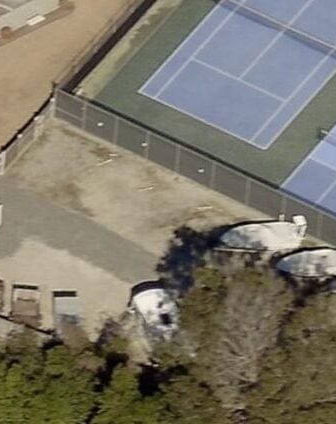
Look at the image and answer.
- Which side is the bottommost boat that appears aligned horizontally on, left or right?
right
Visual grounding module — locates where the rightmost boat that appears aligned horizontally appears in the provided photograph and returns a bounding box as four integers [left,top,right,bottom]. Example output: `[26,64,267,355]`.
[275,249,336,277]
